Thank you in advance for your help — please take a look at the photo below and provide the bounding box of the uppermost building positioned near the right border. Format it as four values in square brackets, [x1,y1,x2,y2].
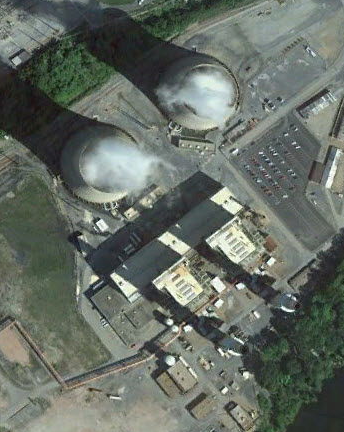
[300,93,335,119]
